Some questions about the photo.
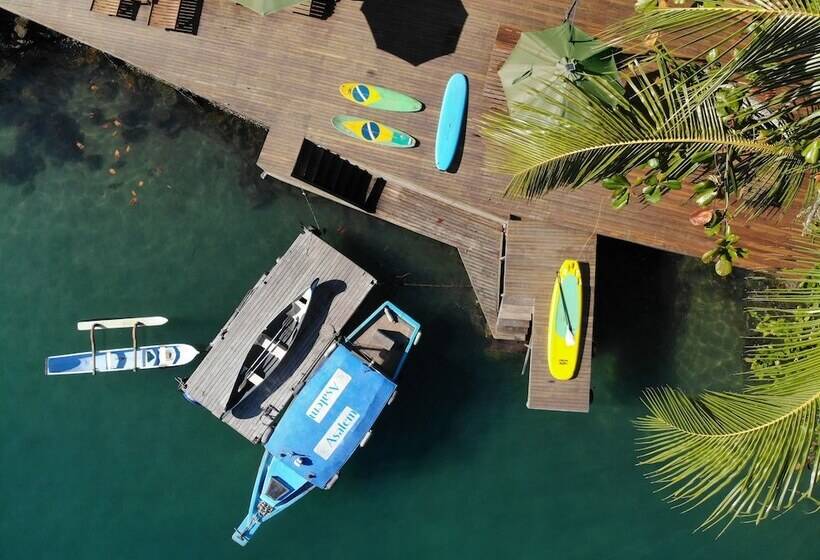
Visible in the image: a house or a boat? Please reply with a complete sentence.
I can see a boat in this picture.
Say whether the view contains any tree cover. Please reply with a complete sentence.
Yes, tree cover can be seen from above here.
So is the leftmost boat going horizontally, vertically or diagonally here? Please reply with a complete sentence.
In this picture, the leftmost boat is oriented horizontally.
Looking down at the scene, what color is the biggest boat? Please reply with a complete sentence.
From above, the biggest boat appears blue.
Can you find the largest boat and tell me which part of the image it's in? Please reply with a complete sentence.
The largest boat is in the bottom part of the image.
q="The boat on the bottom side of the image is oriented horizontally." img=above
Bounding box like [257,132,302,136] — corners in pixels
[45,317,202,376]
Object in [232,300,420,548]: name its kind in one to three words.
boat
